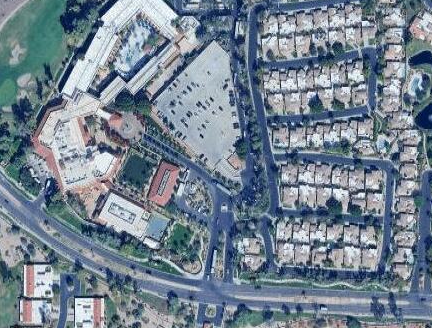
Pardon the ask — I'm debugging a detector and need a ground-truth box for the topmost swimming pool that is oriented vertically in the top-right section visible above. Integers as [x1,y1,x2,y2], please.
[410,68,423,95]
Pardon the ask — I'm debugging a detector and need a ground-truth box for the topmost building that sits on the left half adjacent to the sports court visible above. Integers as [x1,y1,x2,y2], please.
[148,160,179,207]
